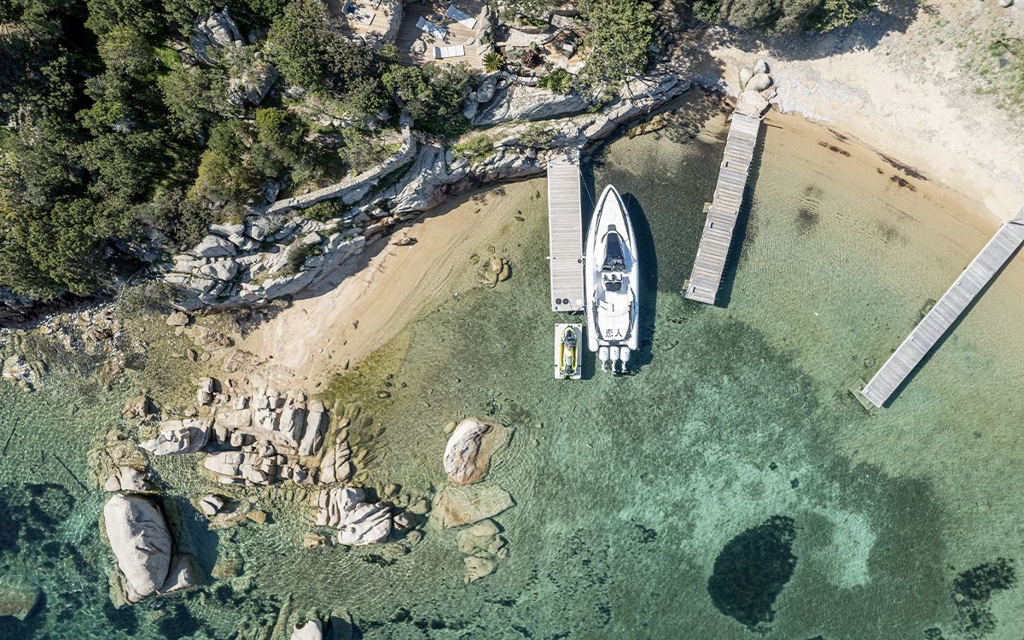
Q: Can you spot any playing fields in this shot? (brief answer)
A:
No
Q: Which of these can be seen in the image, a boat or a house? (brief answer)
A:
boat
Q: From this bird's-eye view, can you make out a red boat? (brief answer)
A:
No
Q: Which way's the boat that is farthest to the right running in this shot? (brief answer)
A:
vertically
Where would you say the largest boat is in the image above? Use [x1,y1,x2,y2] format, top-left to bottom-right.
[585,184,638,374]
